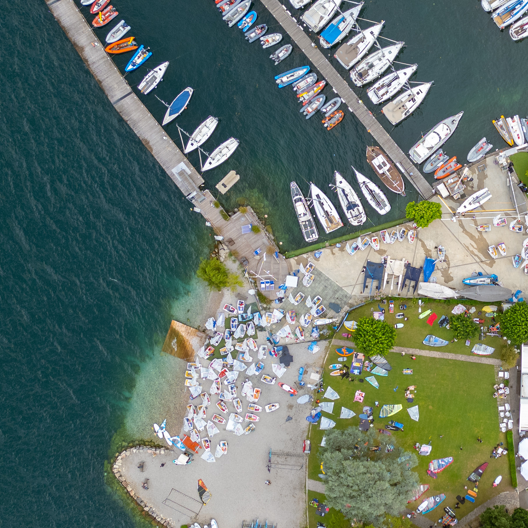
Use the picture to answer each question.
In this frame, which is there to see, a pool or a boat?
boat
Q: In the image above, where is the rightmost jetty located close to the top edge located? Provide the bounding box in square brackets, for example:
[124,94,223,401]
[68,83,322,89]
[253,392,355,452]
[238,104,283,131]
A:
[261,0,435,198]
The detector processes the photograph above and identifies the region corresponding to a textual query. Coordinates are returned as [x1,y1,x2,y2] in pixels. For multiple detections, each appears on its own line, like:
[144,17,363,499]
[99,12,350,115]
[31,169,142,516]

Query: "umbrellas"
[518,437,528,459]
[519,459,528,481]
